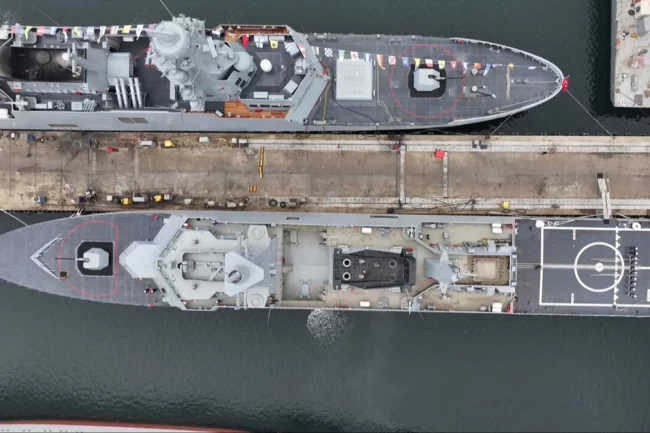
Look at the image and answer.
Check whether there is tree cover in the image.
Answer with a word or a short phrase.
No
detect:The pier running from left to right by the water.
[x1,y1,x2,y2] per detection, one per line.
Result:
[0,131,650,217]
